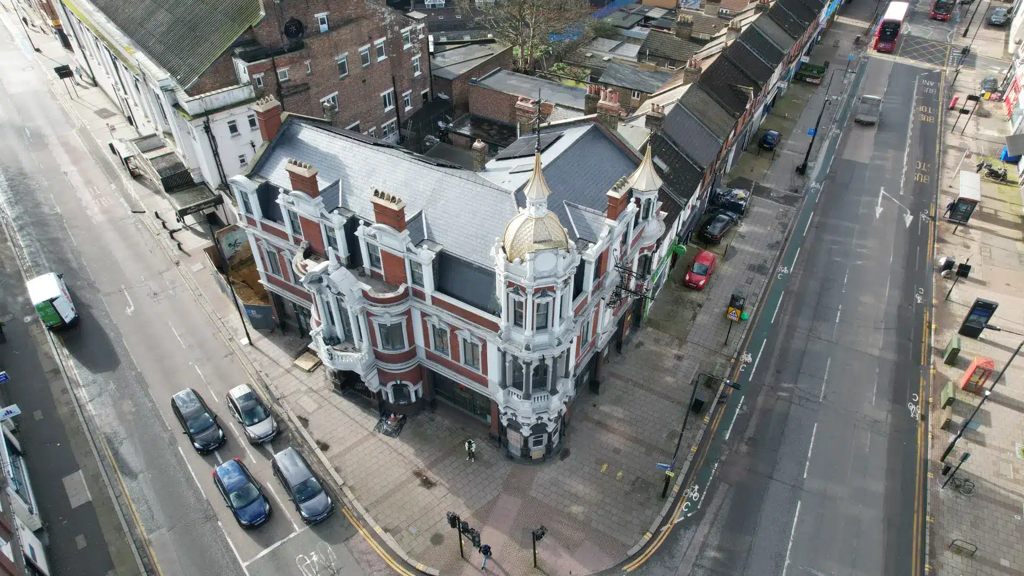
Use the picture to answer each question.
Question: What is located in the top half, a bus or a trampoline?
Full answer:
What appears in the top half is a bus.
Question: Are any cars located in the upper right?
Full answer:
Yes, looking in the upper right, one can make out a car.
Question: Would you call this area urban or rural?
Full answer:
The area shown here is urban.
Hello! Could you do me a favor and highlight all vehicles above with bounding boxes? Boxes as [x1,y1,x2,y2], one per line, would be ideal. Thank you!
[206,452,274,536]
[222,382,283,451]
[852,91,886,131]
[982,158,1009,176]
[266,447,337,530]
[699,209,740,244]
[32,277,93,341]
[874,4,908,51]
[928,0,953,20]
[685,247,718,287]
[758,130,784,152]
[981,71,1005,93]
[166,385,229,461]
